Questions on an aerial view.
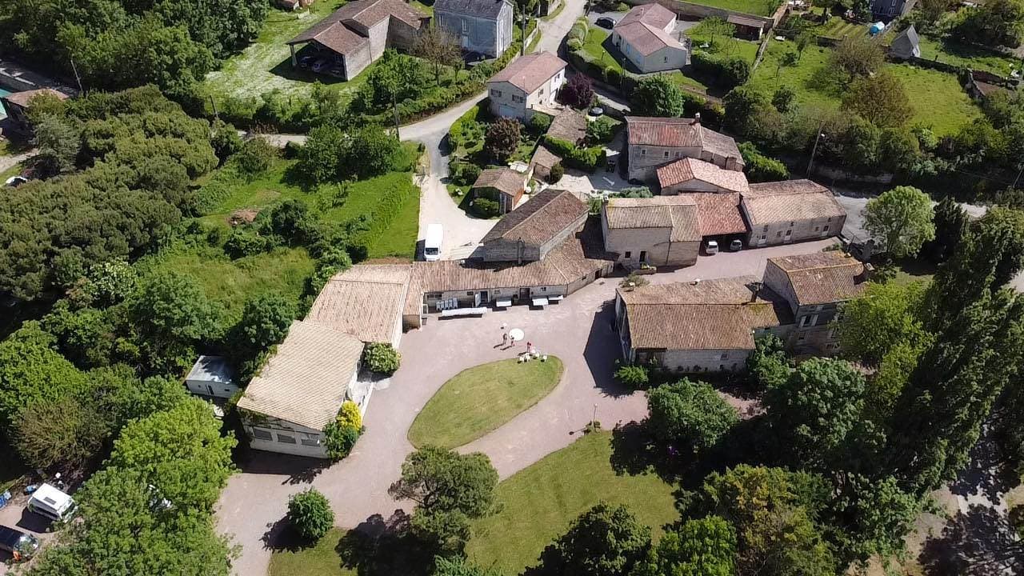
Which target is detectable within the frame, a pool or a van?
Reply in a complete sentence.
It is a van that can be seen here.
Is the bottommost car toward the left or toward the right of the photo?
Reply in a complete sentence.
It is on the left.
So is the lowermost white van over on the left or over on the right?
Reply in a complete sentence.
The lowermost white van sits on the left side.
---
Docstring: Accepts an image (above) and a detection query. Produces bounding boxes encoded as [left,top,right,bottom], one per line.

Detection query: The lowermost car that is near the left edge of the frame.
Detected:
[0,526,38,560]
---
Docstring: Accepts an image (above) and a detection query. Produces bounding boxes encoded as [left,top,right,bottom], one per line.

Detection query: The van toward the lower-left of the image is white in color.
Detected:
[28,482,80,526]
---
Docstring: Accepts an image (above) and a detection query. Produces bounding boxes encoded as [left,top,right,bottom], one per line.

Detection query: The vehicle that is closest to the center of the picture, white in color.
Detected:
[423,226,443,260]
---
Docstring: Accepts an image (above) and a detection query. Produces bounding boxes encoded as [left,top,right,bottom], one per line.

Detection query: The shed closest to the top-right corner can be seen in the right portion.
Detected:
[969,80,1009,106]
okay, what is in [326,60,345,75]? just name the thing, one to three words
car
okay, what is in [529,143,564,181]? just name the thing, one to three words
shed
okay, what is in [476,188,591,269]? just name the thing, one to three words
barn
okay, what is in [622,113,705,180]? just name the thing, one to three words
house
